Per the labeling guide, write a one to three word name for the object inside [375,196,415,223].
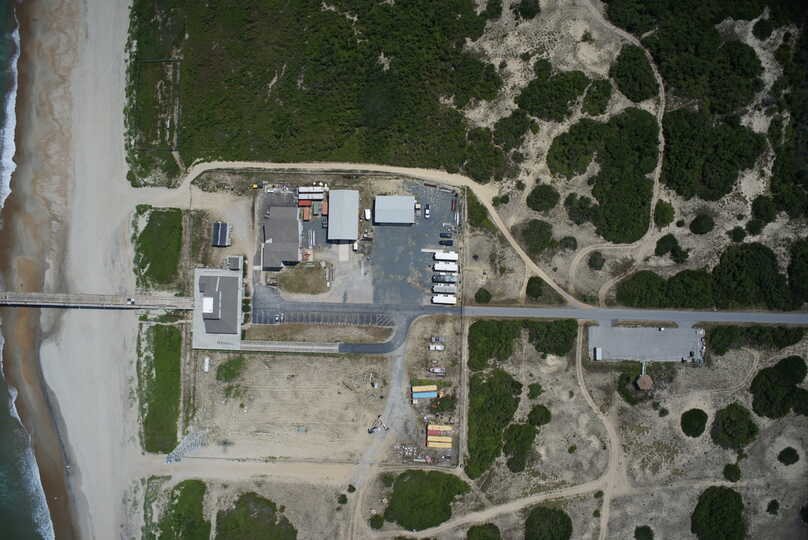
building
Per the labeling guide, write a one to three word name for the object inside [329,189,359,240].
building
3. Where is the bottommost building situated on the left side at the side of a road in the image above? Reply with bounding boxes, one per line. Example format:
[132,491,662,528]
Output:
[192,268,246,350]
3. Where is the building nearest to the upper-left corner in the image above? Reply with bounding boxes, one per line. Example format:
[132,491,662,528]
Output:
[212,221,234,246]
